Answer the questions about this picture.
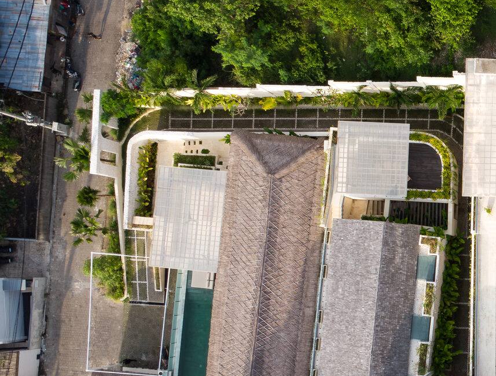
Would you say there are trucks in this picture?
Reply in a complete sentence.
No, the scene contains no truck.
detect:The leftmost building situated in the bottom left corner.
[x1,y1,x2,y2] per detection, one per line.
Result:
[0,279,33,344]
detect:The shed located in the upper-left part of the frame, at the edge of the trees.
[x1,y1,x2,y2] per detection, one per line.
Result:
[0,0,60,98]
